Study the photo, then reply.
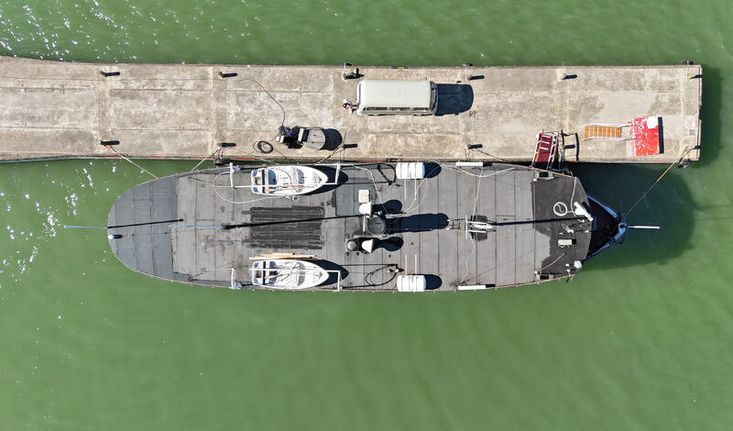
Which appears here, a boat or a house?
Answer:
boat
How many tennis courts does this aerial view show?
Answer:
0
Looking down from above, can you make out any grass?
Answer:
No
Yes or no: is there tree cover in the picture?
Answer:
No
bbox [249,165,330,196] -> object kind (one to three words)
boat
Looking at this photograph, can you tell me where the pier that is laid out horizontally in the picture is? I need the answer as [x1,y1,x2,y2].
[0,55,702,164]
